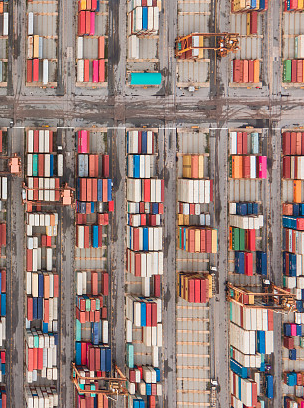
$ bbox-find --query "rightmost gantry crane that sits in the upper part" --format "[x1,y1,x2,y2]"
[177,31,241,59]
